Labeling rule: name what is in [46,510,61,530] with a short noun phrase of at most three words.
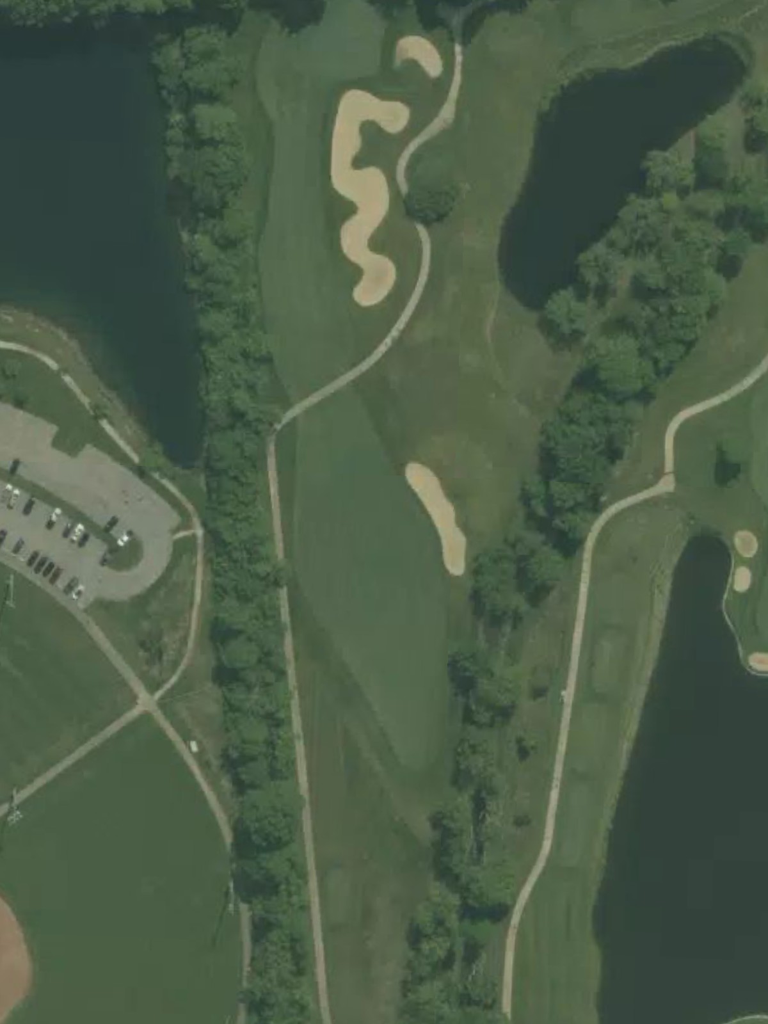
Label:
vehicle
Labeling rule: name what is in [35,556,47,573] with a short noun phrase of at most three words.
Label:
vehicle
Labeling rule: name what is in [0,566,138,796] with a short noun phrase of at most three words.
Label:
sports field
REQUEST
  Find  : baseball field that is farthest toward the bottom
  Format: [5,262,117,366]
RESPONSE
[0,710,239,1024]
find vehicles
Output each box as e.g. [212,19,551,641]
[72,584,85,601]
[5,490,20,511]
[49,567,62,585]
[65,578,78,595]
[0,484,12,505]
[42,562,55,579]
[117,530,132,547]
[61,523,73,540]
[46,510,61,530]
[27,550,40,568]
[104,516,118,533]
[22,498,35,516]
[35,556,47,573]
[9,458,22,475]
[77,531,90,549]
[0,530,8,547]
[12,538,25,555]
[70,526,82,544]
[99,551,109,568]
